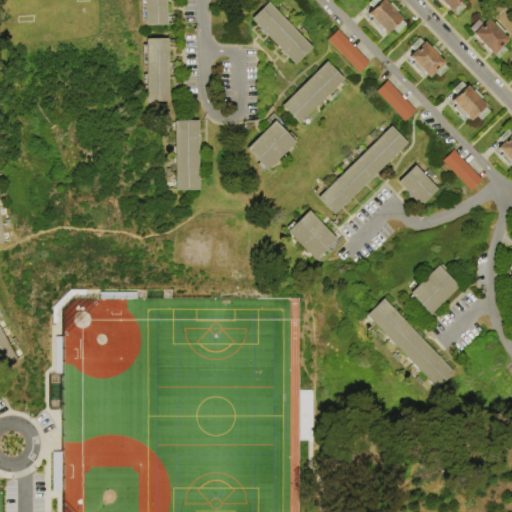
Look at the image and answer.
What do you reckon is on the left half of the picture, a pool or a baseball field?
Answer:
baseball field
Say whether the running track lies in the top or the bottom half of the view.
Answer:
bottom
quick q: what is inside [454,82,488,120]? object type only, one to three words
house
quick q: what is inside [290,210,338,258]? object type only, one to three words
building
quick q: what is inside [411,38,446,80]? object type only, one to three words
house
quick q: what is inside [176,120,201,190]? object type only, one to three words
building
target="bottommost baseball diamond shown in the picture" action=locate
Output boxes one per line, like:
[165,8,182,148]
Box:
[64,434,170,512]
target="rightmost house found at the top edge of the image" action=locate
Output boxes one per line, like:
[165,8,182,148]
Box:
[474,18,510,56]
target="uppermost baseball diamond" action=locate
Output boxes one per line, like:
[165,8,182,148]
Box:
[63,299,141,379]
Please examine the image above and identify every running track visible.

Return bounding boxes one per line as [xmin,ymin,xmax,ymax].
[262,298,300,512]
